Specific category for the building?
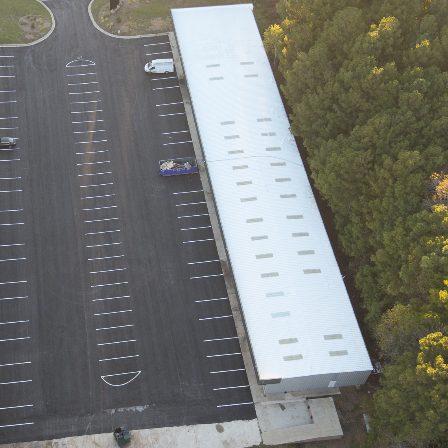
warehouse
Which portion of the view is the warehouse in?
center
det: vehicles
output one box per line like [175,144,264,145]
[144,59,174,76]
[0,137,16,147]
